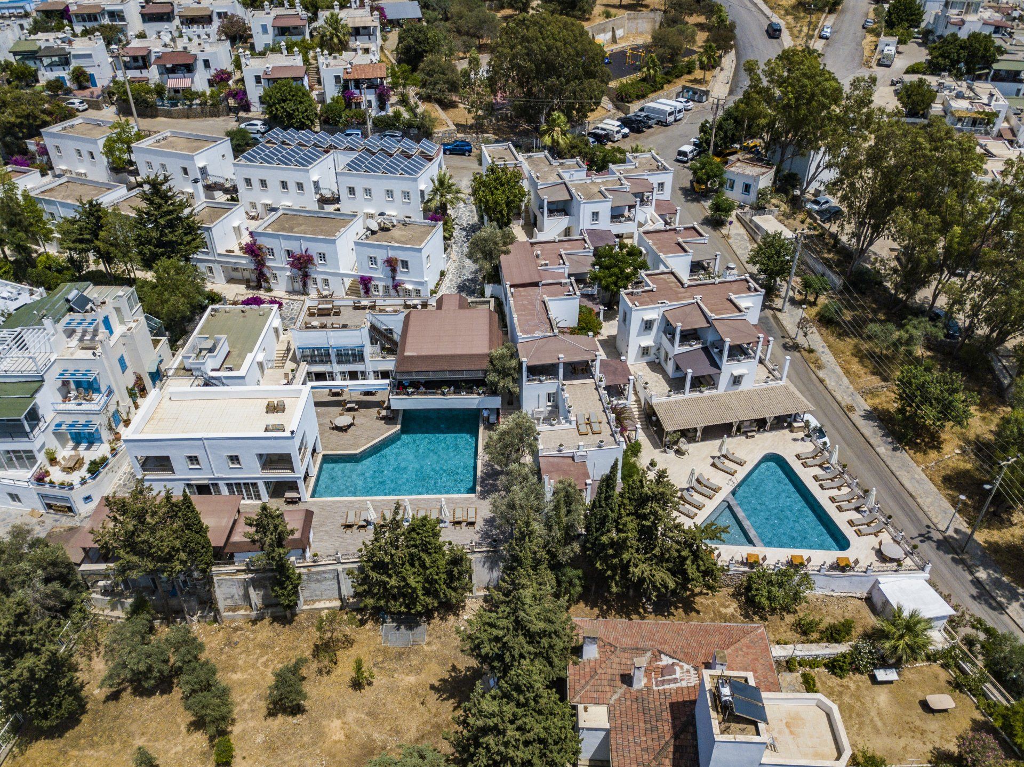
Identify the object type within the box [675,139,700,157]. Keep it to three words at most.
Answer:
car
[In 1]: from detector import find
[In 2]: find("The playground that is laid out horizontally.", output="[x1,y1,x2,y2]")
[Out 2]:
[604,47,701,84]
